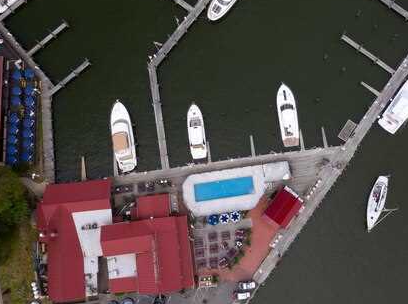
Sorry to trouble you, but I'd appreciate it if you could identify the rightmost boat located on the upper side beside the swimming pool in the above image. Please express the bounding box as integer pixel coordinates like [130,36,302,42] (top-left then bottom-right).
[276,83,300,148]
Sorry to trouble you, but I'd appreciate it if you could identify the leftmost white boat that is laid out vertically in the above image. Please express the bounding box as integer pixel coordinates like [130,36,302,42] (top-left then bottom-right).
[111,98,138,174]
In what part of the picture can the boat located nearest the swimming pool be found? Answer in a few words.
center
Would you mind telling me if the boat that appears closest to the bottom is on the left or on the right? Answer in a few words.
right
